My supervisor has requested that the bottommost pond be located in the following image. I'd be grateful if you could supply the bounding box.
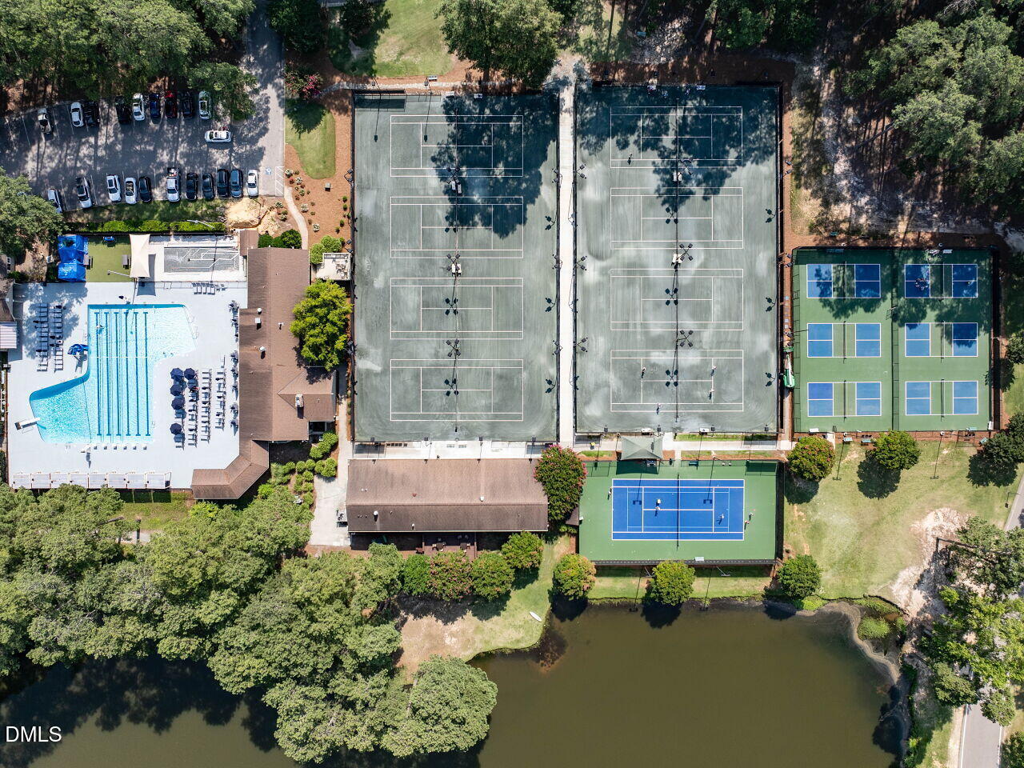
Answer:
[0,596,912,768]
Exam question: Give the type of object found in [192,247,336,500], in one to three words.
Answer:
building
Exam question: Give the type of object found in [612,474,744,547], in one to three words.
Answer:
tennis court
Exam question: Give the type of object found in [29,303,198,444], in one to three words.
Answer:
swimming pool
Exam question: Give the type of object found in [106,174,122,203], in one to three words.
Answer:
car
